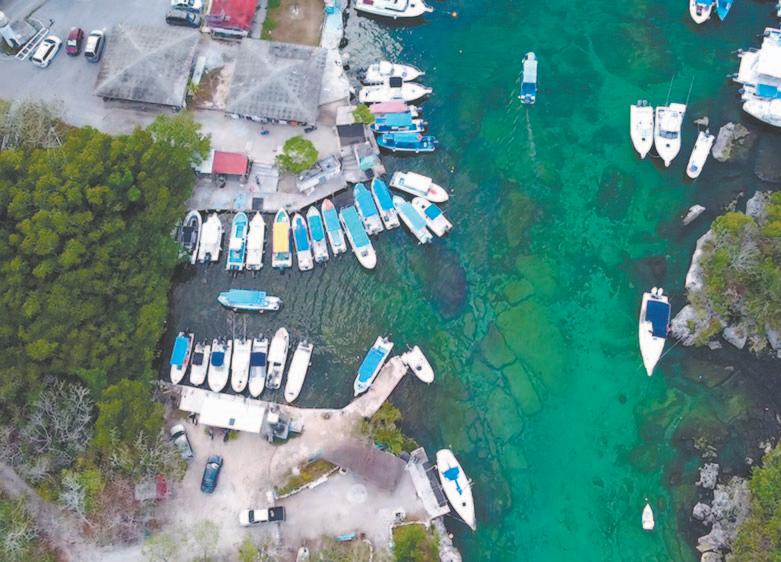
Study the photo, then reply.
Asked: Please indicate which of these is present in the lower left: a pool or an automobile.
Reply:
automobile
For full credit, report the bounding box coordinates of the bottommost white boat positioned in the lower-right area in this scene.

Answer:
[641,502,655,531]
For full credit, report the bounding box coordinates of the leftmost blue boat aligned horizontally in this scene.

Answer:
[217,288,287,313]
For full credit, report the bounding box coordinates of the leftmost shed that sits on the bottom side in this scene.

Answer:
[135,474,171,501]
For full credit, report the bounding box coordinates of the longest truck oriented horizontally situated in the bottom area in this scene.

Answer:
[239,506,286,528]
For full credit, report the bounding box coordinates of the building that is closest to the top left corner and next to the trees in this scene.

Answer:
[94,24,202,114]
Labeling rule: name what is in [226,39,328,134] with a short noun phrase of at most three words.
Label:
building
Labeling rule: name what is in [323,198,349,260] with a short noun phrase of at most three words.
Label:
boat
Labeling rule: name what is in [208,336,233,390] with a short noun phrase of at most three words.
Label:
boat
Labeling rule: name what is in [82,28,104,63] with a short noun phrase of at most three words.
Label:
car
